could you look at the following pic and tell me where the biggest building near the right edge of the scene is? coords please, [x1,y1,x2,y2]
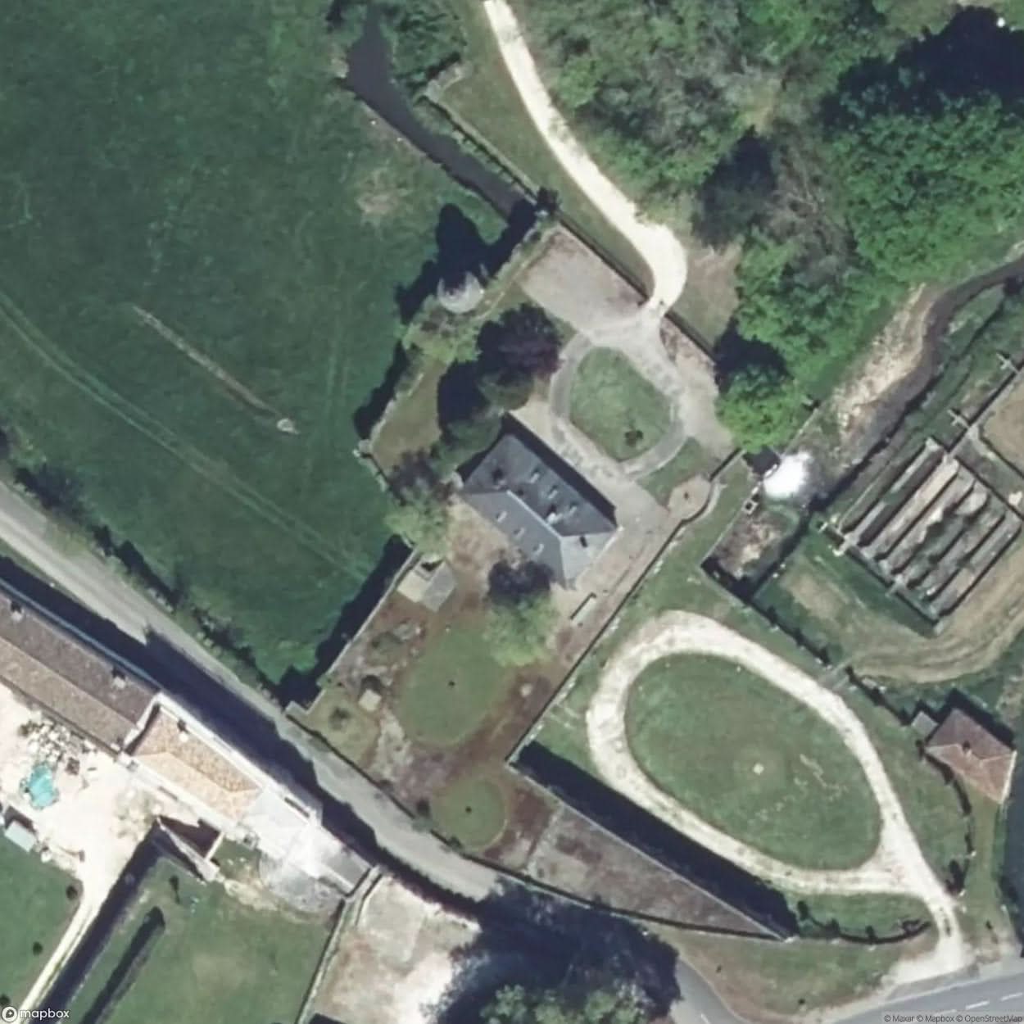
[925,708,1021,805]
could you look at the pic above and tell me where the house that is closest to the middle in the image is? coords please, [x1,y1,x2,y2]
[460,432,620,584]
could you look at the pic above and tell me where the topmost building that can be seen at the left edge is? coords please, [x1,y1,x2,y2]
[0,579,164,758]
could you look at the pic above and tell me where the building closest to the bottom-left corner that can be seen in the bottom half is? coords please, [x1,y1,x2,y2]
[7,821,41,851]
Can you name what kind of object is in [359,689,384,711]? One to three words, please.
shed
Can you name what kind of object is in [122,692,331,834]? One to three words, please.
house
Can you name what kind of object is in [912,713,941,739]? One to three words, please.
shed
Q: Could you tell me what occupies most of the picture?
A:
grass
